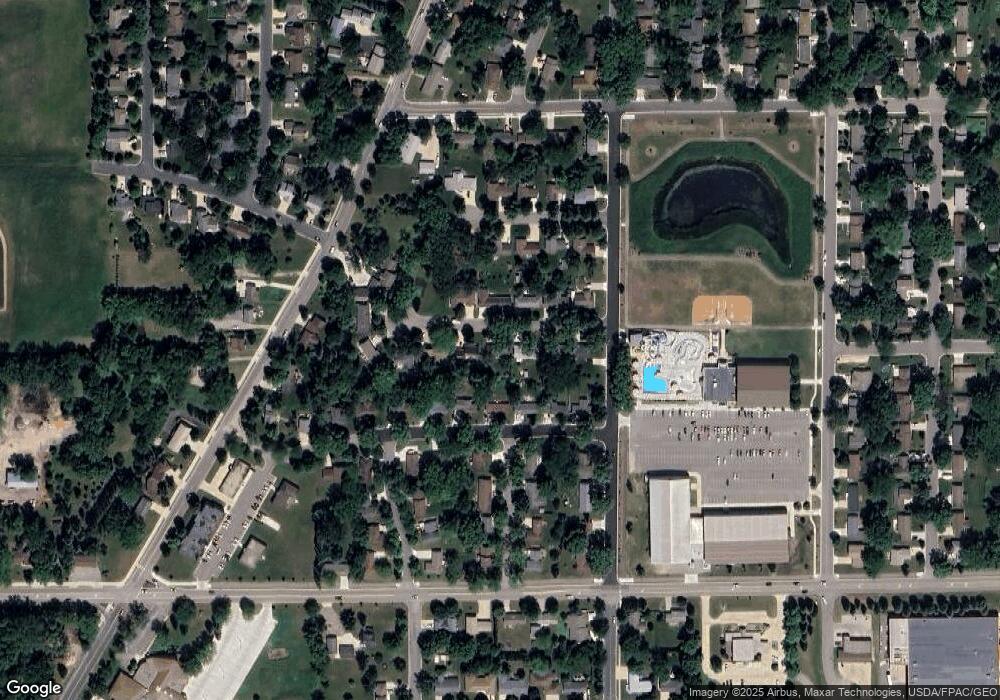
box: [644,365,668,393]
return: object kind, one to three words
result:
swimming pool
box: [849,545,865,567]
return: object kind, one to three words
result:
house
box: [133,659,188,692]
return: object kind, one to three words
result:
building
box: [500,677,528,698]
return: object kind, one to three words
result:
house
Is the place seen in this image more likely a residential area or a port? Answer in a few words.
residential area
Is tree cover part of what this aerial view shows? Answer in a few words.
Yes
